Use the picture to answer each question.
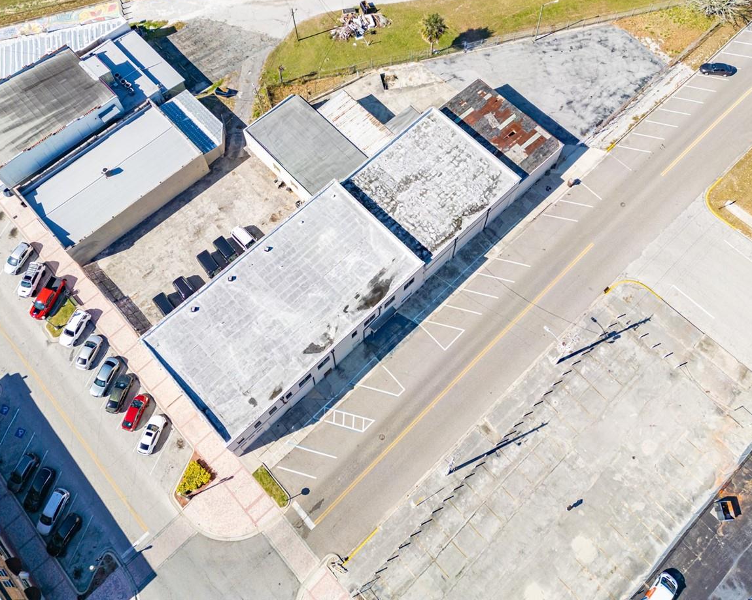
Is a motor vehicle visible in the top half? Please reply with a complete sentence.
Yes, in the top half there is a motor vehicle.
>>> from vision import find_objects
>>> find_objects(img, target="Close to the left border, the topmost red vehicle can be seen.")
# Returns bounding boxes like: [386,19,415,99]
[26,274,73,323]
